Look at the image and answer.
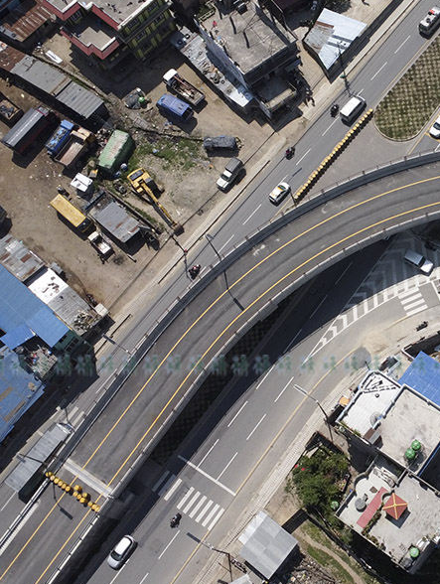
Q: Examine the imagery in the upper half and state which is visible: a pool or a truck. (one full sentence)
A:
It is a truck that can be seen in the upper half.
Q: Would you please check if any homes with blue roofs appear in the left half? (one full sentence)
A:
Yes, a home with a blue roof is visible in the left half.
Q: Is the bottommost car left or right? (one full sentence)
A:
It is on the left.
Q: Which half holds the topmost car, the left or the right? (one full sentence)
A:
It is on the right.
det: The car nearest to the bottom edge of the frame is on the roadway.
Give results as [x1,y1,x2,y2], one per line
[108,534,139,569]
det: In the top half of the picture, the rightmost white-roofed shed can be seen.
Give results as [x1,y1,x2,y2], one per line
[305,9,367,79]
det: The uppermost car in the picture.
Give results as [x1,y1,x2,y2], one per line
[418,9,440,37]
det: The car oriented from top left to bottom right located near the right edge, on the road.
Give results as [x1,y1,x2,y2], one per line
[402,250,434,276]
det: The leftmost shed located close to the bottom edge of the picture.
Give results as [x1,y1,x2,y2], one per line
[240,511,301,578]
